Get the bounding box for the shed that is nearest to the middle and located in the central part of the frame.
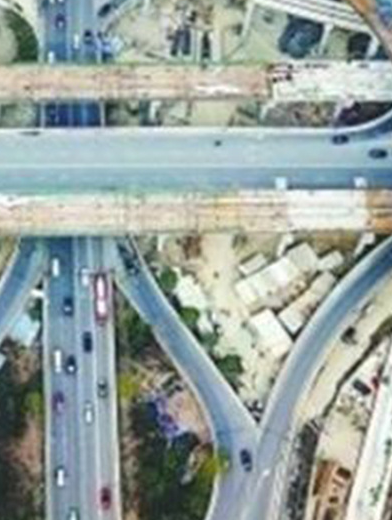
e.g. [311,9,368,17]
[176,277,207,309]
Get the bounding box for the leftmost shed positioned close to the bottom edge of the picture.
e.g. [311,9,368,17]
[312,460,335,497]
